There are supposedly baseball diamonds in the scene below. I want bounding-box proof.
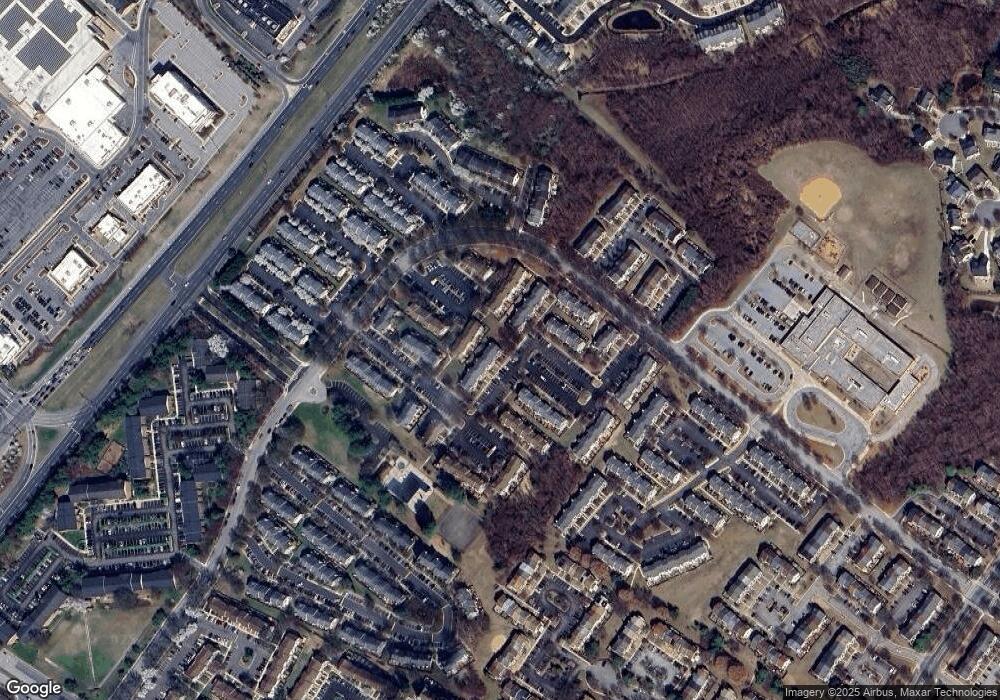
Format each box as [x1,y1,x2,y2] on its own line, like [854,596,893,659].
[799,177,842,222]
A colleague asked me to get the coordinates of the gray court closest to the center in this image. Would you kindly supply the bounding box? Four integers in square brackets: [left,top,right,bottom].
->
[440,503,480,551]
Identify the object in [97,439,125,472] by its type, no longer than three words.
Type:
sports court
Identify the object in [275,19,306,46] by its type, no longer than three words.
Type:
building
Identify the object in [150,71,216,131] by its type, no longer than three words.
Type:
building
